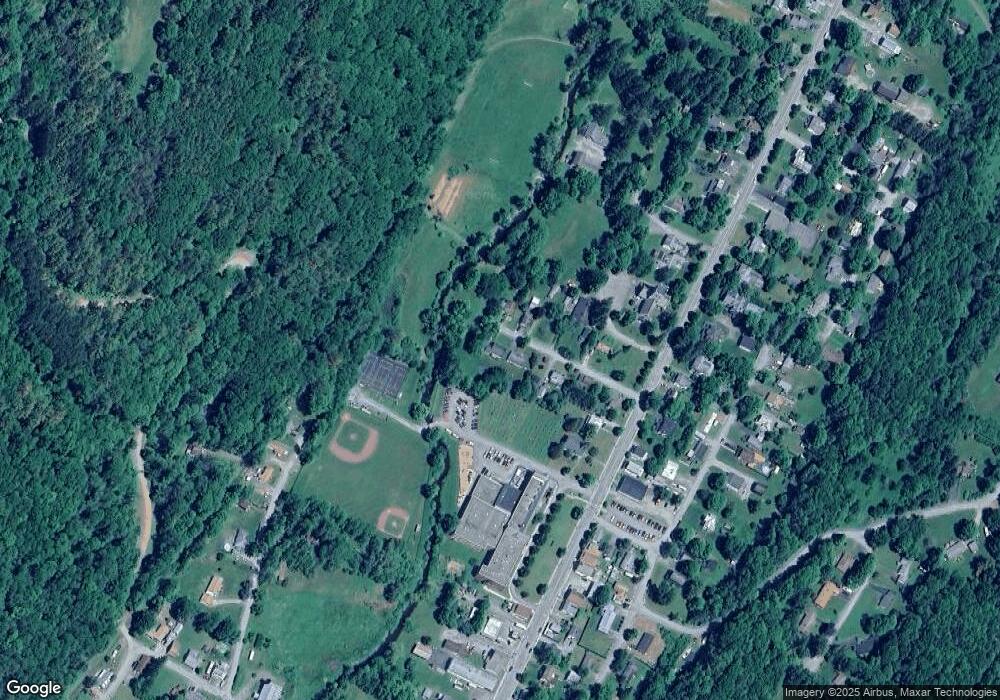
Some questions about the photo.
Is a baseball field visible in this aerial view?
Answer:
Yes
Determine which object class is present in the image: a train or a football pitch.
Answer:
football pitch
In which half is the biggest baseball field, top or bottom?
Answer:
bottom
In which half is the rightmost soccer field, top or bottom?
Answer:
top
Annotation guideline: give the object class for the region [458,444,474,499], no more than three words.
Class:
playground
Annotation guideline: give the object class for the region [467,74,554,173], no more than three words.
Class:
soccer field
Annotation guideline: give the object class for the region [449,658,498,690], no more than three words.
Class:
barn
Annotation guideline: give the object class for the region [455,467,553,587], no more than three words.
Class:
building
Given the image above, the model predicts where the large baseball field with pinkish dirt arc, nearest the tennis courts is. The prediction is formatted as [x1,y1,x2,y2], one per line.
[293,403,432,555]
